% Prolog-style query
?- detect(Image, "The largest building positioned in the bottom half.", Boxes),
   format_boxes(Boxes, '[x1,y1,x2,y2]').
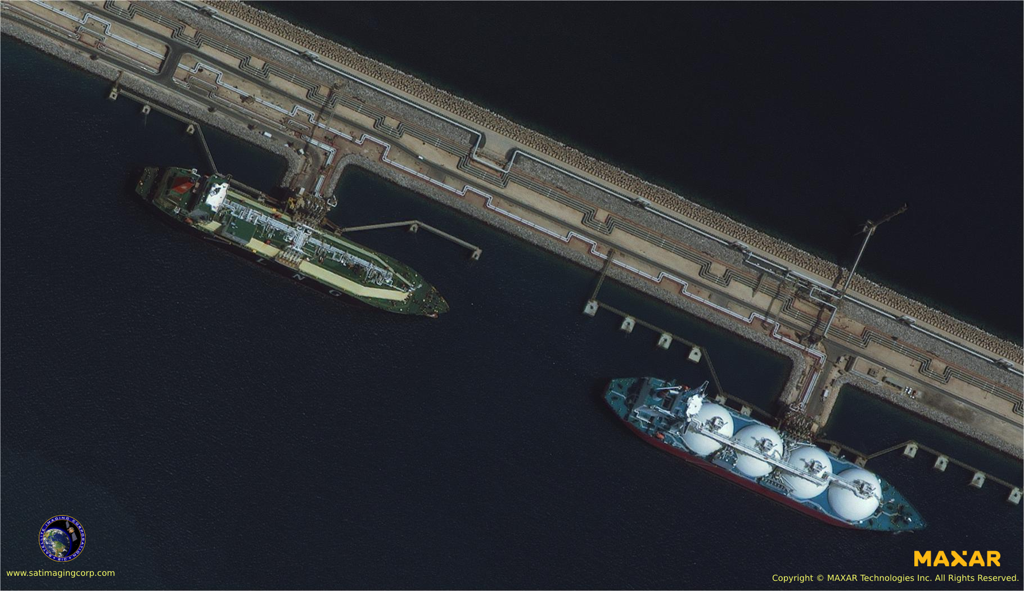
[849,356,885,384]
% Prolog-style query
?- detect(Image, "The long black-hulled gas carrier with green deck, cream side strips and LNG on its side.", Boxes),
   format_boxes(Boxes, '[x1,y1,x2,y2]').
[137,167,450,319]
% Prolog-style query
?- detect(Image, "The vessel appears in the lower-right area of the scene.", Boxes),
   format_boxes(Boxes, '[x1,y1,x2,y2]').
[604,378,925,534]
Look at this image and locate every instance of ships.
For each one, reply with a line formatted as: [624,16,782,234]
[137,167,450,319]
[604,378,925,534]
